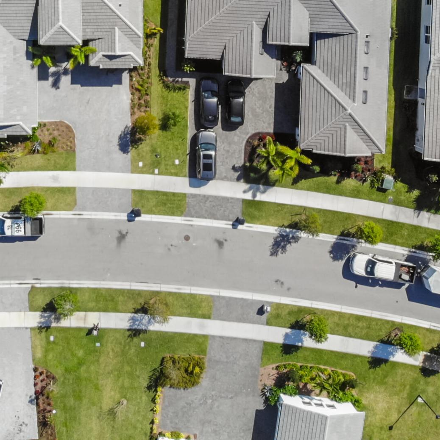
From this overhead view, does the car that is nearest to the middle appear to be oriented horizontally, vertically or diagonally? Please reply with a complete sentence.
From this overhead view, the car that is nearest to the middle appears to run vertically.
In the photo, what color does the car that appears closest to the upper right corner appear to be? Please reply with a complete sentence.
The color of the car that appears closest to the upper right corner is black.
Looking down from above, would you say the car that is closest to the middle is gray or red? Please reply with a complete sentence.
The car that is closest to the middle is gray.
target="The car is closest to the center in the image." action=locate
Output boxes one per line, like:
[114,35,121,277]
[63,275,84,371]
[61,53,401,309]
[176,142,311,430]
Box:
[196,129,219,181]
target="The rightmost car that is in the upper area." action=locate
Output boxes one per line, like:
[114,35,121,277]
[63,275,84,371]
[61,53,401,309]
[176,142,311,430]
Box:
[225,79,249,128]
